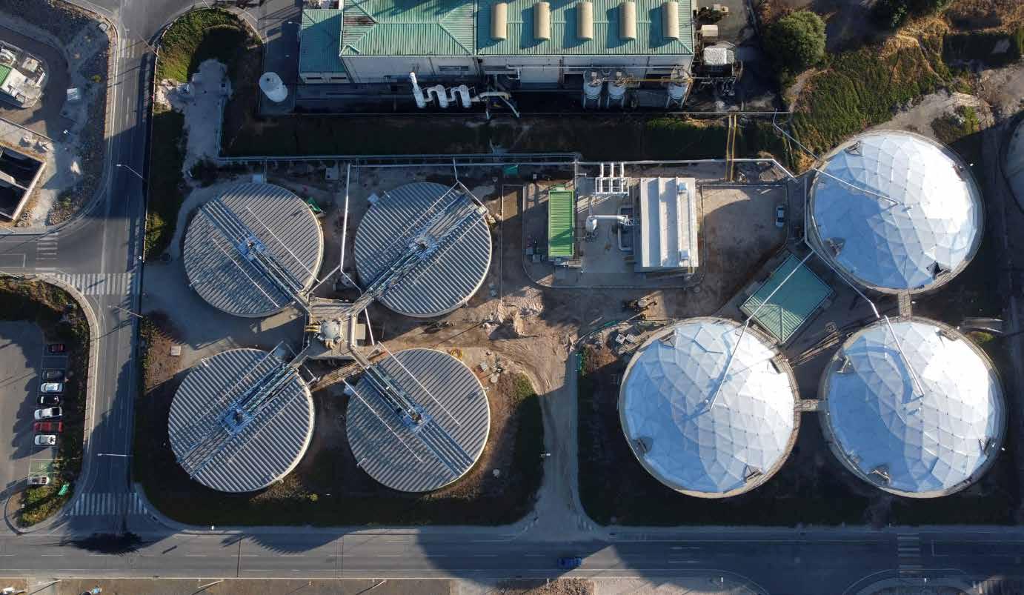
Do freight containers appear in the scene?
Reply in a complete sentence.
Yes, the image includes a freight container.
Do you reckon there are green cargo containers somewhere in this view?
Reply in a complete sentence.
Yes, the photo shows a green cargo container.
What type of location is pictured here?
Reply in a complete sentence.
This looks like an industrial area.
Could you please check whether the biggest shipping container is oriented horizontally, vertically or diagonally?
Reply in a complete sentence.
The biggest shipping container is oriented vertically.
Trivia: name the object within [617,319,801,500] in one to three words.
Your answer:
storage tank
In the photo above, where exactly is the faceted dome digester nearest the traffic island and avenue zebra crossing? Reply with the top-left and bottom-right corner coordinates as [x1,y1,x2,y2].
[812,318,1007,500]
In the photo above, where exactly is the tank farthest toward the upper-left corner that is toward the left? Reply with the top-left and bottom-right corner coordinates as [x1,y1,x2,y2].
[261,70,289,101]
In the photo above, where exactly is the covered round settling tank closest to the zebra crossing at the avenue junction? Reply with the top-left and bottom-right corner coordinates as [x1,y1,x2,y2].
[168,344,318,495]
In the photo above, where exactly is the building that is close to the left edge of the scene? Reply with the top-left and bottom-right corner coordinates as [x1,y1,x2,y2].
[0,36,45,108]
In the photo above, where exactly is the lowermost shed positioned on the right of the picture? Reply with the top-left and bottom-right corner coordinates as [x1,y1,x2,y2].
[739,254,833,343]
